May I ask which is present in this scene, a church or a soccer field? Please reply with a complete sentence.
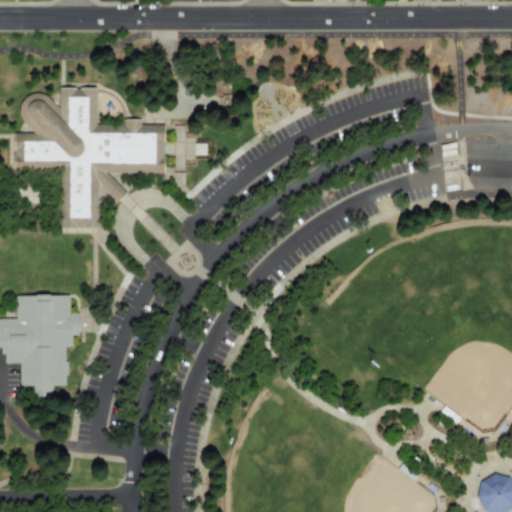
Visible in the photo is a church.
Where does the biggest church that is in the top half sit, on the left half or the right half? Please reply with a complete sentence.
You can find the biggest church that is in the top half on the left side of the picture.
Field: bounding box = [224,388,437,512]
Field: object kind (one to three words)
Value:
baseball field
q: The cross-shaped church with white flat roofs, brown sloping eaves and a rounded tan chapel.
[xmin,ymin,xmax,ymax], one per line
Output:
[15,84,165,228]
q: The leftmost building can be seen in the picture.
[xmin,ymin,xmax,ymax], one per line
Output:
[0,294,80,398]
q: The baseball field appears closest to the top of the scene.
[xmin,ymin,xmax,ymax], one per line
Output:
[328,219,512,432]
